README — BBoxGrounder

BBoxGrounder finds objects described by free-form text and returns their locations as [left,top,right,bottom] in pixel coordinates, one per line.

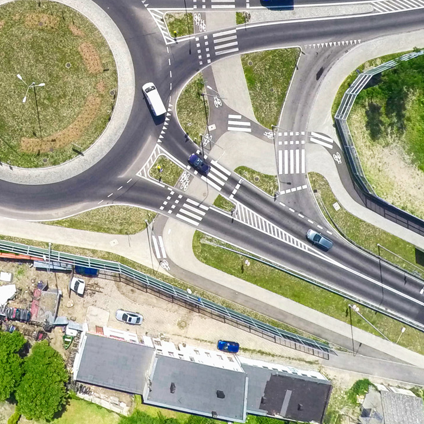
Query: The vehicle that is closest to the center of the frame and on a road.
[185,150,214,177]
